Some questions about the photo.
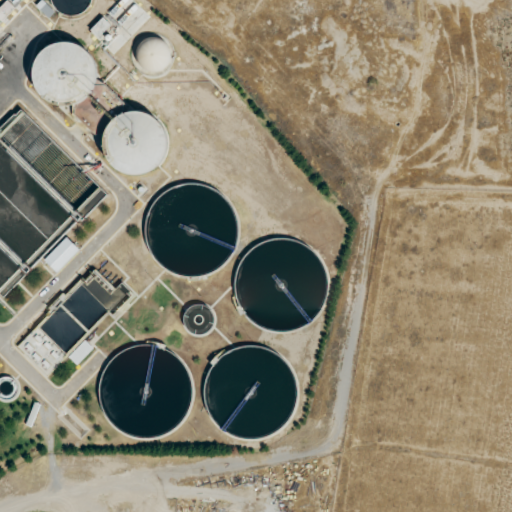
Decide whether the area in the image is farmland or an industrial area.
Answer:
industrial area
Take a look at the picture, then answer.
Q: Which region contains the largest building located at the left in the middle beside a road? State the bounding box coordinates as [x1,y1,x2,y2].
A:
[45,237,80,272]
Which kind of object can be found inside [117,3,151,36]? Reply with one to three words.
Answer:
building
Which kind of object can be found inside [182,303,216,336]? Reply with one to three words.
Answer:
storage tank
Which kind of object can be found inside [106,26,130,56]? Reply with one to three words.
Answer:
building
